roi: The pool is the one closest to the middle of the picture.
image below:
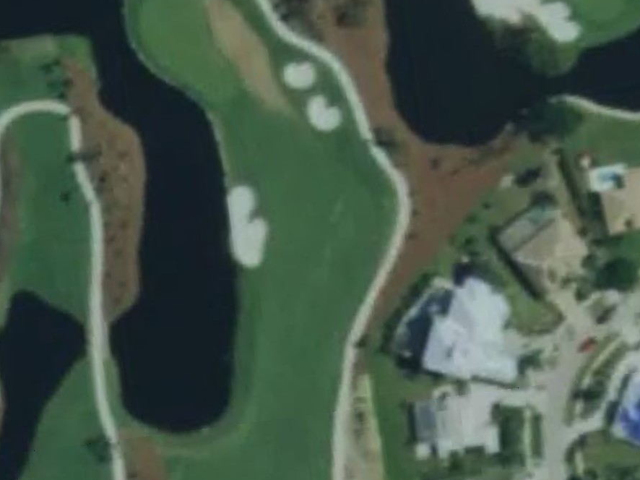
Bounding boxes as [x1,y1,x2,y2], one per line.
[397,287,451,363]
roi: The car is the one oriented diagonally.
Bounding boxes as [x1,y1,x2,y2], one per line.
[579,338,596,352]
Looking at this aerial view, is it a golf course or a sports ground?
golf course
